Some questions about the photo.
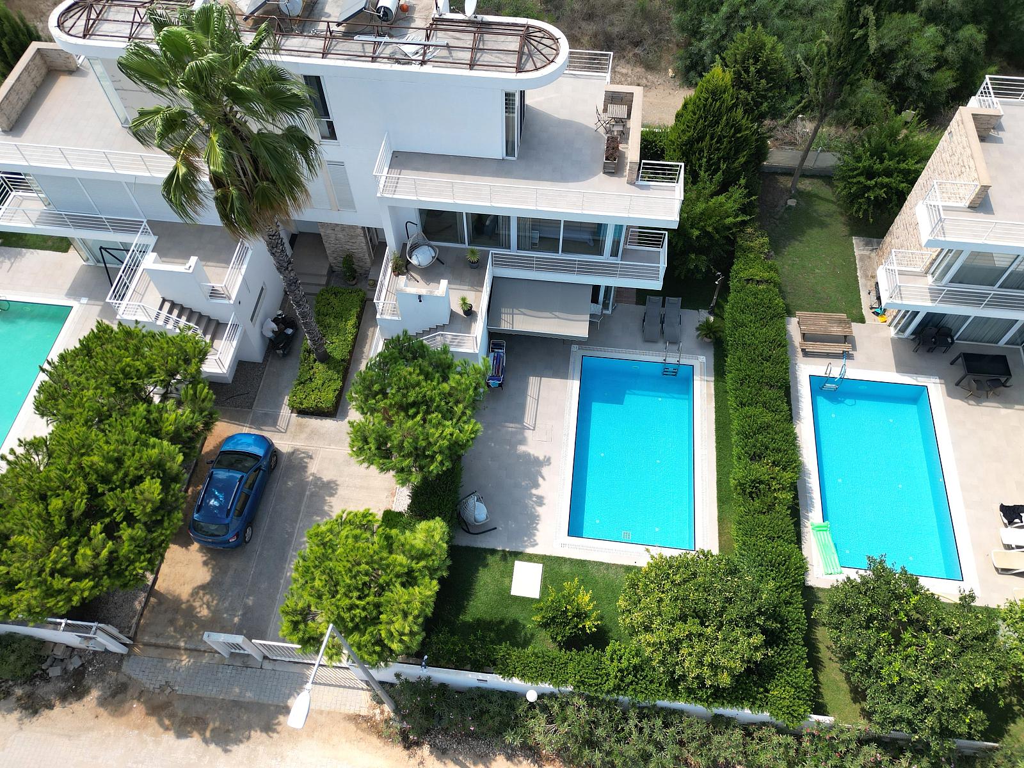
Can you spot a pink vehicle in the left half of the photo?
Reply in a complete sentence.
No, no pink vehicle appears in the left half of the photo.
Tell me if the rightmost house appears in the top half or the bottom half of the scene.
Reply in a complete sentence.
The rightmost house sits in the top half of the picture.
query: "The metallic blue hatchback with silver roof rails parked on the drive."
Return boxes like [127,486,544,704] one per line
[182,430,278,555]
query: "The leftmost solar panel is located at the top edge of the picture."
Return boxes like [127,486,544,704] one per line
[240,0,274,21]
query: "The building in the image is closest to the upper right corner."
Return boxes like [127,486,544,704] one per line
[874,76,1024,348]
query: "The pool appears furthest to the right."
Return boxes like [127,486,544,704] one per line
[796,363,979,596]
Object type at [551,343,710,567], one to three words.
swimming pool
